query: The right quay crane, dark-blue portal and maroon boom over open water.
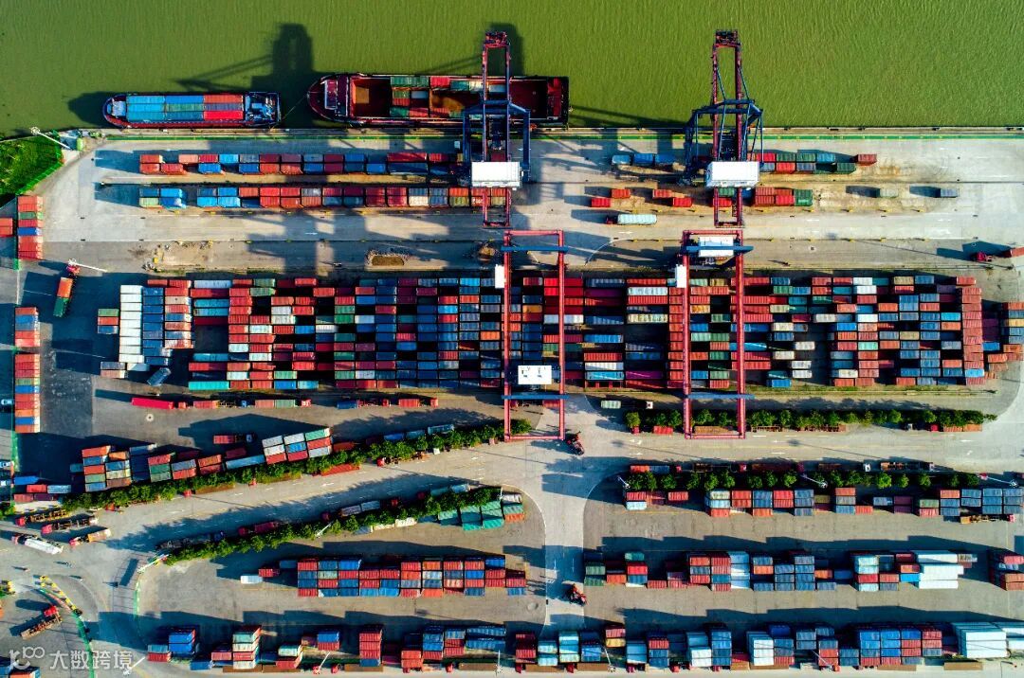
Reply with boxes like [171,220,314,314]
[669,29,762,230]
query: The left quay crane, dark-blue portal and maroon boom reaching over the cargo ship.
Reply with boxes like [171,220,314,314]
[459,29,537,231]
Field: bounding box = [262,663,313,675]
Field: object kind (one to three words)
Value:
vehicle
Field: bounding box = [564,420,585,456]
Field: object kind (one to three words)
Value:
work vehicle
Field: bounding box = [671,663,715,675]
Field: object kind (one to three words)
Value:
vehicle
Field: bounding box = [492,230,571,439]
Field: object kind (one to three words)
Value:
container crane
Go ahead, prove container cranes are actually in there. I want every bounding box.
[663,230,759,439]
[492,230,571,439]
[459,29,537,231]
[669,29,762,230]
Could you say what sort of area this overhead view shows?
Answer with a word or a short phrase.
port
